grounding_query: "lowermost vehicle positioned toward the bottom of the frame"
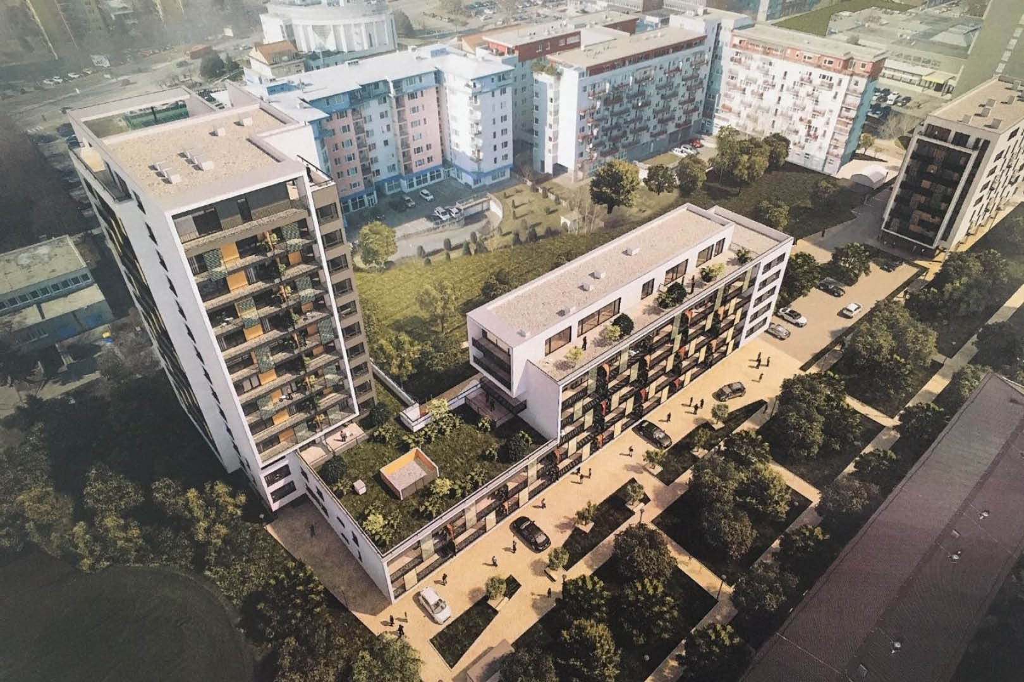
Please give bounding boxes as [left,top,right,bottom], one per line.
[415,583,453,625]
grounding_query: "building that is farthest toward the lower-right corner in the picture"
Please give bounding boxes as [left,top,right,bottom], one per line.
[719,376,1024,682]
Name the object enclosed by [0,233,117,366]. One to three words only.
building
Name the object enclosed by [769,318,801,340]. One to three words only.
car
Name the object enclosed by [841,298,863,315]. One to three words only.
car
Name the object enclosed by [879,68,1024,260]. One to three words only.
house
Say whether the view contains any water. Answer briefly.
No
